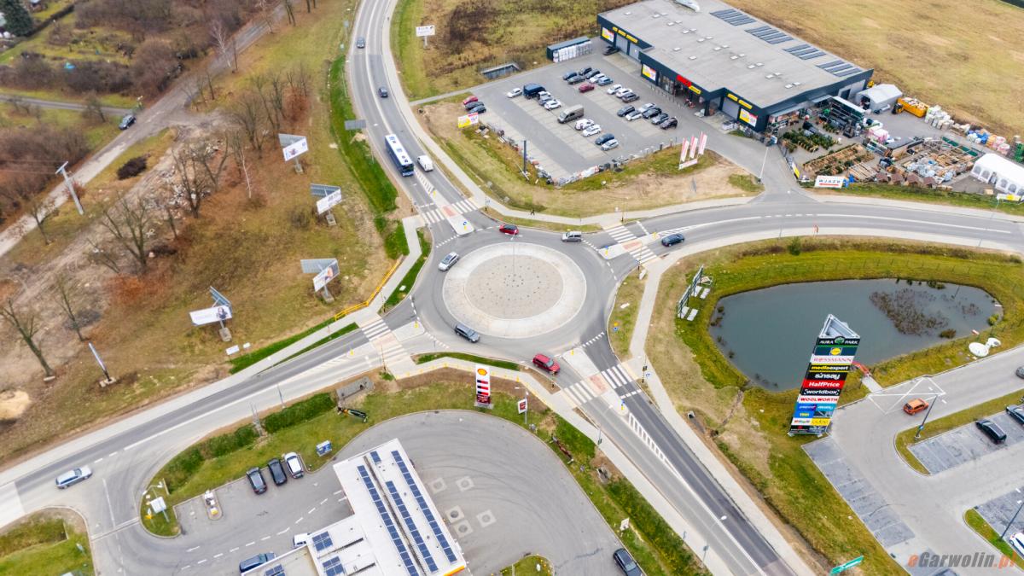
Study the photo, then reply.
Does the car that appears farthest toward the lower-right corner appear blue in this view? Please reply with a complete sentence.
No, the color of the car that appears farthest toward the lower-right corner is white.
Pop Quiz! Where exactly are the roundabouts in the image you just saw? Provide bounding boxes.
[417,229,613,354]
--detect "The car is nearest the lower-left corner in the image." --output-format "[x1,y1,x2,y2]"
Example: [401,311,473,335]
[53,467,93,490]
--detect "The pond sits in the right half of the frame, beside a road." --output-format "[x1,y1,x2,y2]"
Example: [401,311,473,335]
[630,227,1024,576]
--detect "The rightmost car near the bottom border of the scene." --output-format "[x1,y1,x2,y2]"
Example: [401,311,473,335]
[1002,528,1024,560]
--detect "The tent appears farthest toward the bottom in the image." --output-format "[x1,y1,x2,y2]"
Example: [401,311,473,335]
[972,155,1024,202]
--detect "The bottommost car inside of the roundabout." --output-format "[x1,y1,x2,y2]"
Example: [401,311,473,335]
[452,322,481,342]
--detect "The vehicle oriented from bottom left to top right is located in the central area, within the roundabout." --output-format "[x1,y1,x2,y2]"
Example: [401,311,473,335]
[436,252,461,270]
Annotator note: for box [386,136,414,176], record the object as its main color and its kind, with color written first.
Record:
white bus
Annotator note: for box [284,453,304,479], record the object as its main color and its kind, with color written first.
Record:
white car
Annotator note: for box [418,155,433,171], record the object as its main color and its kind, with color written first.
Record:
white vehicle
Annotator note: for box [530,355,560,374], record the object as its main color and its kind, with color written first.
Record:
red car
